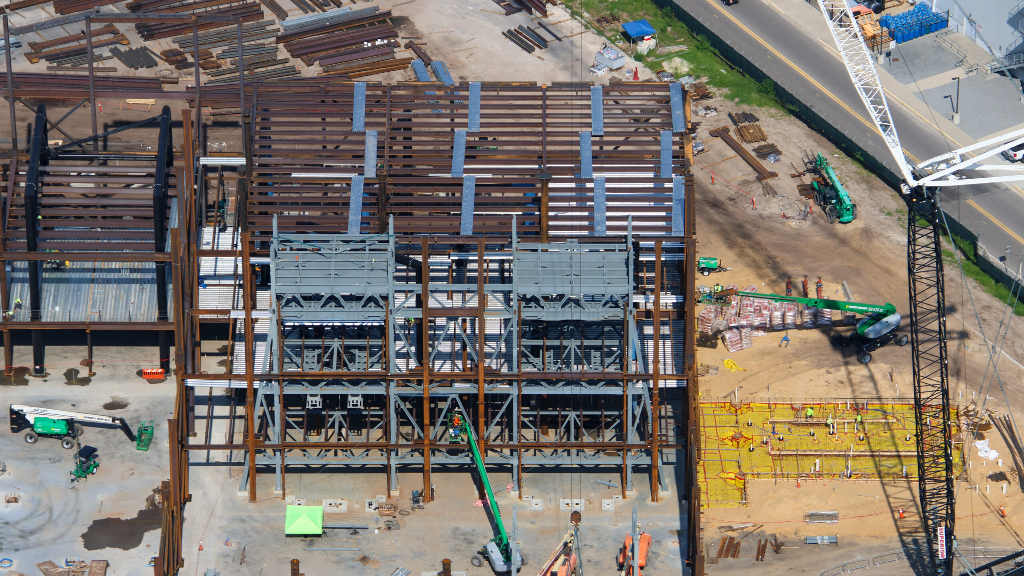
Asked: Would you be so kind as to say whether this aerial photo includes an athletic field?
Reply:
No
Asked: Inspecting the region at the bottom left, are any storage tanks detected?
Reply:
No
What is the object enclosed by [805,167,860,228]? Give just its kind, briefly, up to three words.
work vehicle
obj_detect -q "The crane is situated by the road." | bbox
[808,0,1024,576]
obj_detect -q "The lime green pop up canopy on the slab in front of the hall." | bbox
[285,505,324,555]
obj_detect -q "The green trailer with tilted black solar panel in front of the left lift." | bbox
[66,434,98,481]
